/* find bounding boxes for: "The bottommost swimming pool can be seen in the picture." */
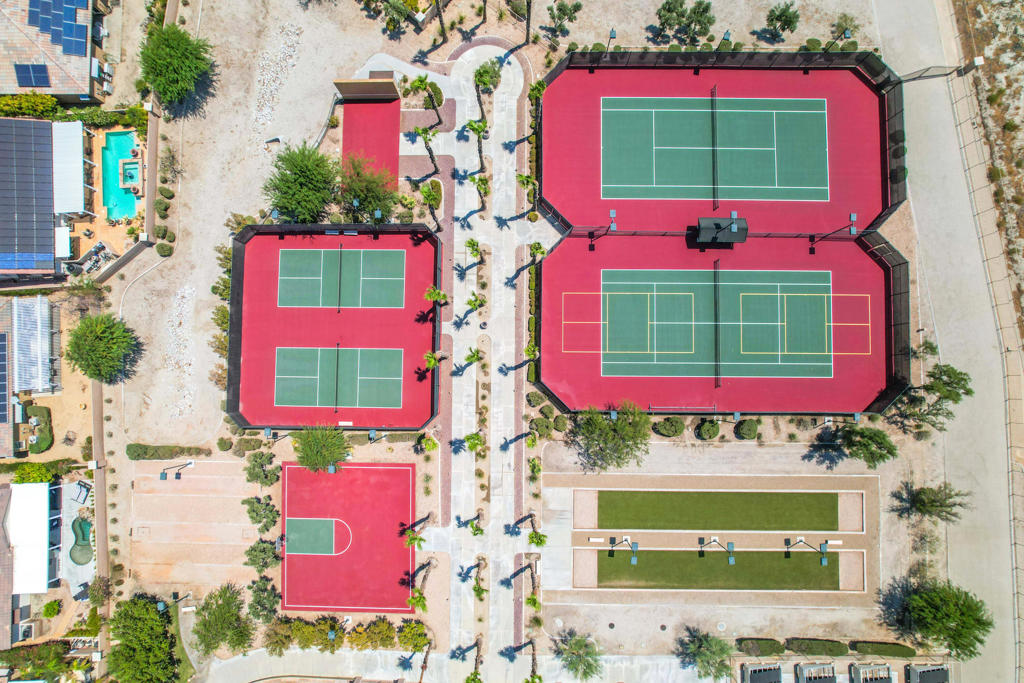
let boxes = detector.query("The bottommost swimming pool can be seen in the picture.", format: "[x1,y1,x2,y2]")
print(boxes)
[68,517,94,567]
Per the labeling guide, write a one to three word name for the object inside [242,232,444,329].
sports court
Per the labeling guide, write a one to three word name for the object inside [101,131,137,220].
swimming pool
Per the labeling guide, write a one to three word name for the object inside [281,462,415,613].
basketball court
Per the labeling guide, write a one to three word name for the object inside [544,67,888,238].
tennis court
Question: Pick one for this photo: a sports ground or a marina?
sports ground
